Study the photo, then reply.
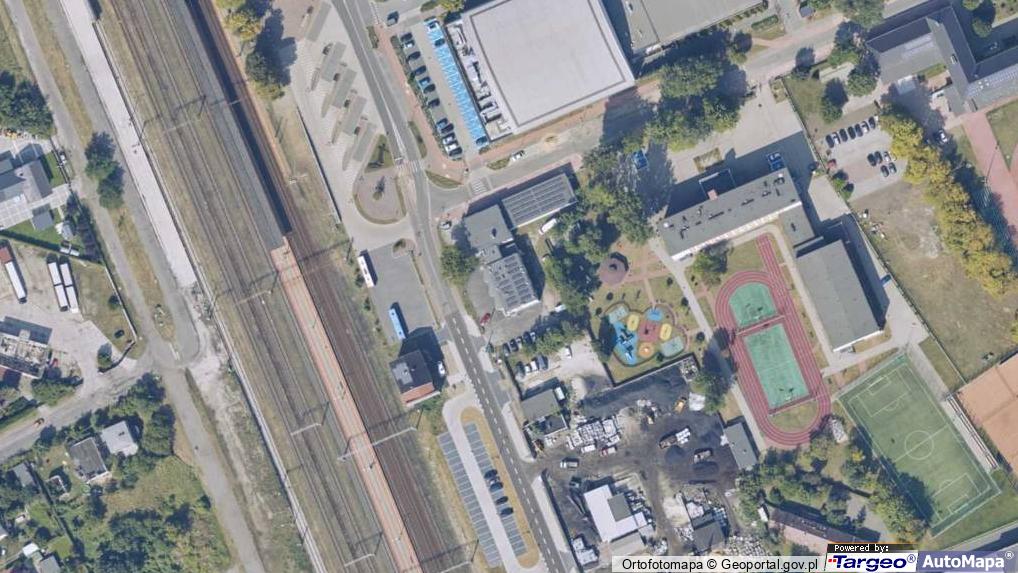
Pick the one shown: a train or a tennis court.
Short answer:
tennis court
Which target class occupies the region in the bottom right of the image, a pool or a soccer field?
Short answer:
soccer field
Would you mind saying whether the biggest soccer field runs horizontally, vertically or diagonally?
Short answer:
diagonally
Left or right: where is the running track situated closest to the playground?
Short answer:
right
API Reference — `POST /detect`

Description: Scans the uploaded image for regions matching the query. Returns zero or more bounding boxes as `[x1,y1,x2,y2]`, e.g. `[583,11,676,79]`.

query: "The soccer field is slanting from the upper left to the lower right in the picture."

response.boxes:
[838,352,1001,536]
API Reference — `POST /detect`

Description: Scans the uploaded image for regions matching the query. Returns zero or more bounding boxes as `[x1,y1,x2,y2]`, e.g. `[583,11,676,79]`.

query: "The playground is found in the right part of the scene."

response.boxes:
[603,301,688,367]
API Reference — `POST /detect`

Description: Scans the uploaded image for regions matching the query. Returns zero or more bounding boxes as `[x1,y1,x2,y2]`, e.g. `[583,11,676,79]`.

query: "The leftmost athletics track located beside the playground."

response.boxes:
[719,238,829,450]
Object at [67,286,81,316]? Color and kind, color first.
white vehicle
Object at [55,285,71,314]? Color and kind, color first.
white vehicle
